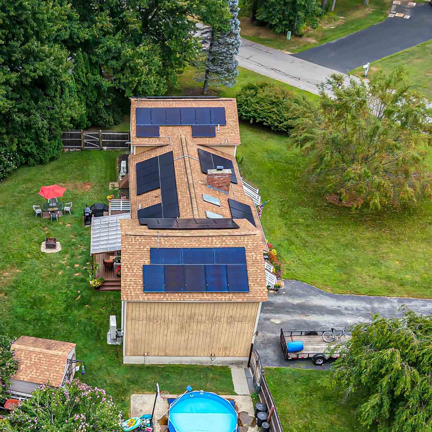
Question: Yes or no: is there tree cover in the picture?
Yes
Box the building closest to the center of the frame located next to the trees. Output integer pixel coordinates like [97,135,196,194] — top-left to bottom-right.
[120,94,280,366]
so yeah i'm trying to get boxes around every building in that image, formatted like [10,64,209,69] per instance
[9,341,73,408]
[120,94,280,366]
